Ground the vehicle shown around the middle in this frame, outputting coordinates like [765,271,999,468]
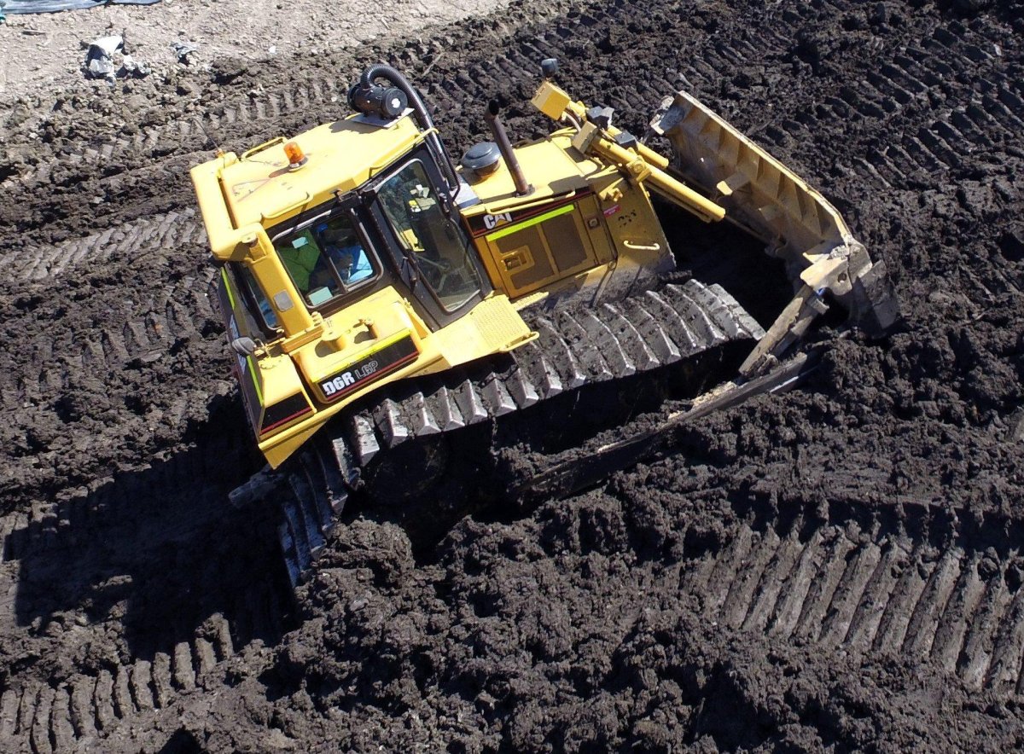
[162,56,900,597]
